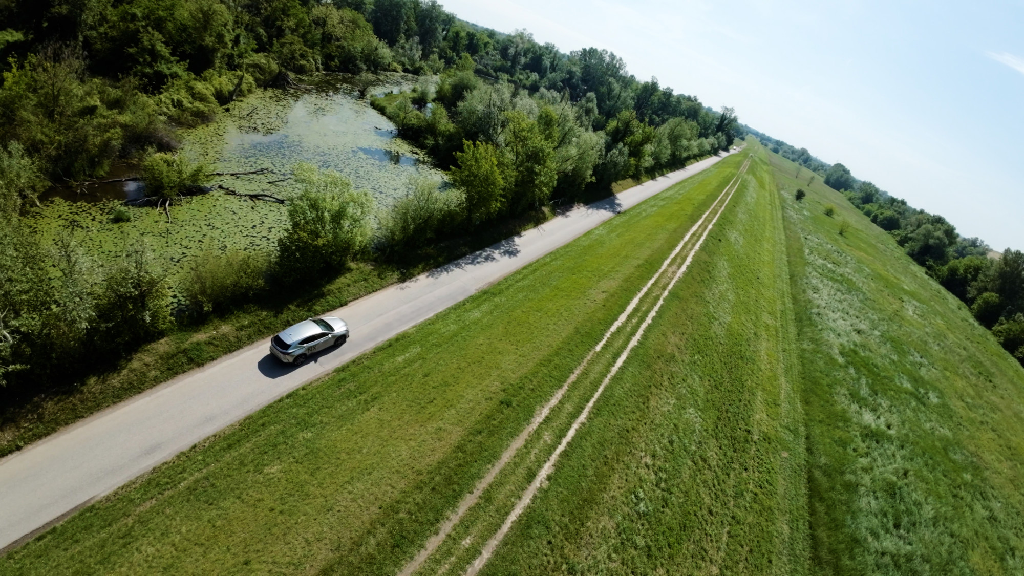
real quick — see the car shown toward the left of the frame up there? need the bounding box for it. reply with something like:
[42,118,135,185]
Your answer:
[266,316,350,366]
